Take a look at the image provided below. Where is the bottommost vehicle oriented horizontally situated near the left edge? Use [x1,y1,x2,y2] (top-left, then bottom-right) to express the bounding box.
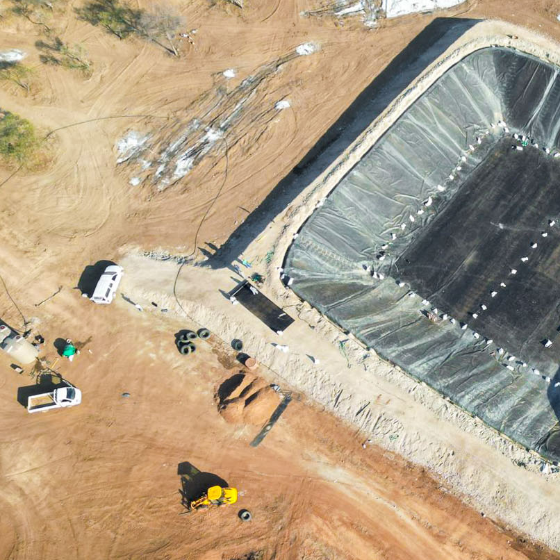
[19,384,81,411]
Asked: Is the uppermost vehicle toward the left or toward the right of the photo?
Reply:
left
